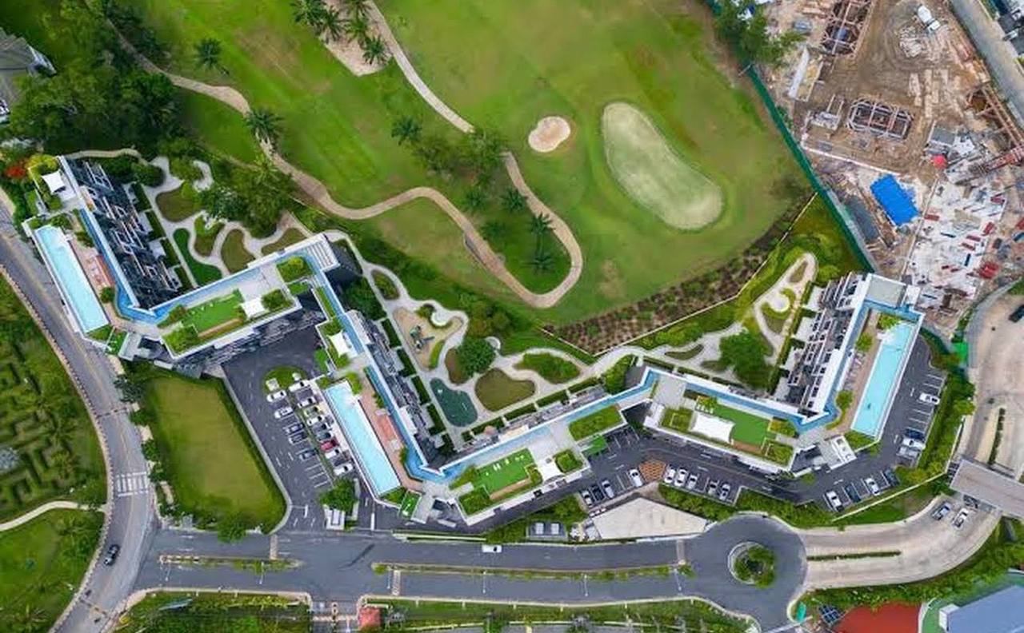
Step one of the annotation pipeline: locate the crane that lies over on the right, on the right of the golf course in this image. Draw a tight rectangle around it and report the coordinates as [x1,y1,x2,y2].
[958,142,1024,184]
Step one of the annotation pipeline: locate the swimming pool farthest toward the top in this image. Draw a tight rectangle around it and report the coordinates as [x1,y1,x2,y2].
[31,221,113,334]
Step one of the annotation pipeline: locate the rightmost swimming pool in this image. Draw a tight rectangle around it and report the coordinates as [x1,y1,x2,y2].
[848,320,922,438]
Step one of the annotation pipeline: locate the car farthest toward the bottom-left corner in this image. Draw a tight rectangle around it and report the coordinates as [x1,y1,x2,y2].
[102,543,120,566]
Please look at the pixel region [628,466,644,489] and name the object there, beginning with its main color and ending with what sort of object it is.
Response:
white car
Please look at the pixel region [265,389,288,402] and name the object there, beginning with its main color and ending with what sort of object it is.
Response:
white vehicle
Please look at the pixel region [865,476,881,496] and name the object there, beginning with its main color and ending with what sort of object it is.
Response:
white car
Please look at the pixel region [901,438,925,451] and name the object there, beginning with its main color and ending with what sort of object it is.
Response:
white vehicle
